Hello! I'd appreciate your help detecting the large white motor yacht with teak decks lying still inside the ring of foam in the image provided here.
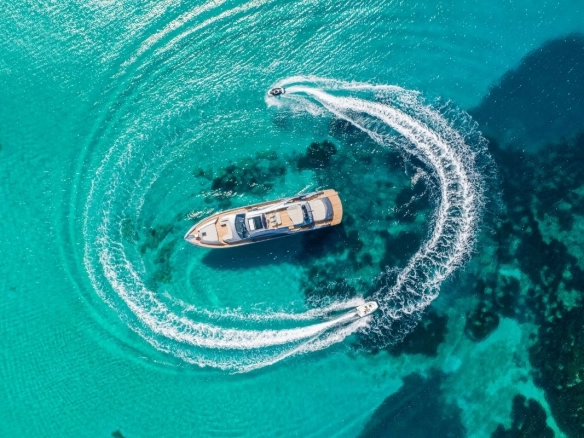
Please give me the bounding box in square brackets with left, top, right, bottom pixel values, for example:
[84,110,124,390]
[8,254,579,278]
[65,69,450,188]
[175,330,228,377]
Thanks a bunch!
[184,189,343,248]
